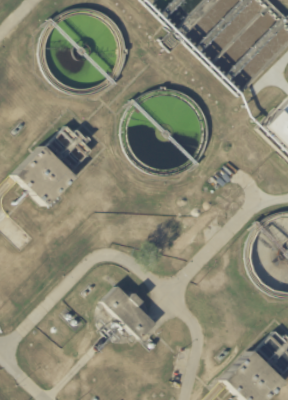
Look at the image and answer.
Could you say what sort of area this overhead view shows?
industrial area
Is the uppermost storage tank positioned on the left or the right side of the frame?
left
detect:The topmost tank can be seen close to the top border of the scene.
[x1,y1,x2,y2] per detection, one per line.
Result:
[37,8,126,95]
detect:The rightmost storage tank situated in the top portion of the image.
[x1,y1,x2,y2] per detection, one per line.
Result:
[119,88,208,175]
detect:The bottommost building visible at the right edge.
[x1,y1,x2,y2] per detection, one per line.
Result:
[219,350,286,400]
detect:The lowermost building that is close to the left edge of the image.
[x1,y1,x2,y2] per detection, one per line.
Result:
[10,146,76,207]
